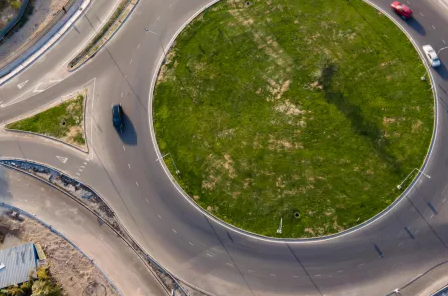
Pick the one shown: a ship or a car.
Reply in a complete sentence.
Looking from above, you can make out a car.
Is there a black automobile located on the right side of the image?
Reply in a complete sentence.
No, no black automobile appears on the right side of the image.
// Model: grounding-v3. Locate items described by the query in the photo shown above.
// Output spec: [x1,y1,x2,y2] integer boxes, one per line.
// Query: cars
[111,105,126,132]
[390,1,413,21]
[422,46,442,68]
